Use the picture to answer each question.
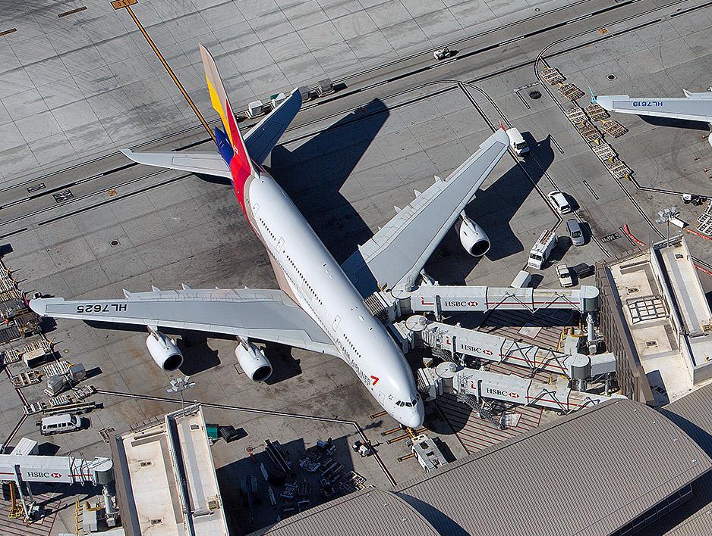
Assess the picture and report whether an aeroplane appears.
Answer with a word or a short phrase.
Yes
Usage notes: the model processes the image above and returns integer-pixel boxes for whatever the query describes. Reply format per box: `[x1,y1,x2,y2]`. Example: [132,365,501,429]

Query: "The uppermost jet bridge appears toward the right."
[366,279,605,355]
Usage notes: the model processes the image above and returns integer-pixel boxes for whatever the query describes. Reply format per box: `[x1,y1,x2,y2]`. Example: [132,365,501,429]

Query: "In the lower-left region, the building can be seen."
[113,403,227,536]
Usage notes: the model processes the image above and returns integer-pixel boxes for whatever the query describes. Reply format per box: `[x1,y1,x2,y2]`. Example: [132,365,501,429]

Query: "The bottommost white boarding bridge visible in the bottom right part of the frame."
[410,361,627,435]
